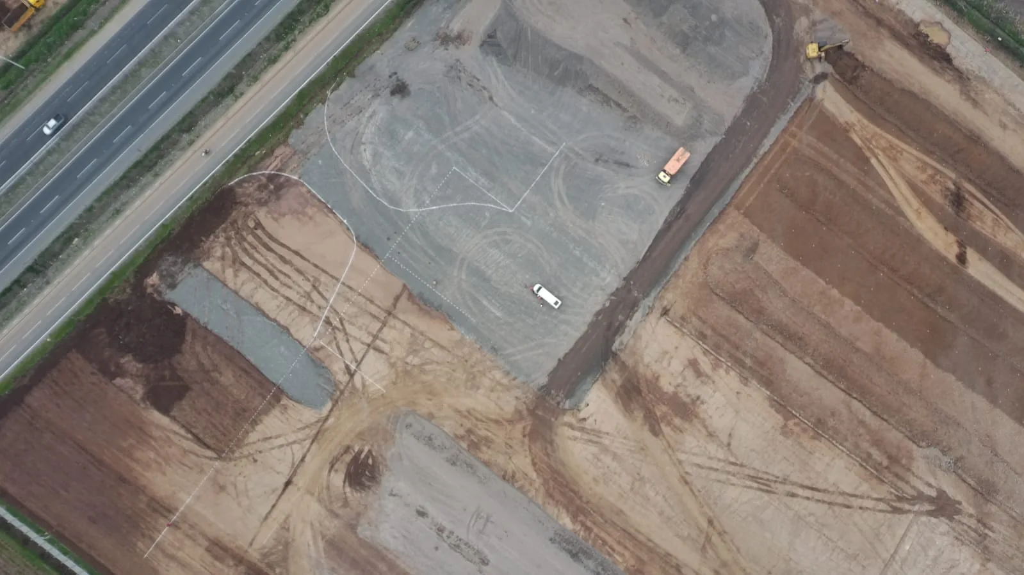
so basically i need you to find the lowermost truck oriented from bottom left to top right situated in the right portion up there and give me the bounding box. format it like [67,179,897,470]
[655,146,690,185]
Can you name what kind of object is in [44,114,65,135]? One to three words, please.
truck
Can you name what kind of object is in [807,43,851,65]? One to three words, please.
work vehicle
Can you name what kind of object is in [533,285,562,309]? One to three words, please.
vehicle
